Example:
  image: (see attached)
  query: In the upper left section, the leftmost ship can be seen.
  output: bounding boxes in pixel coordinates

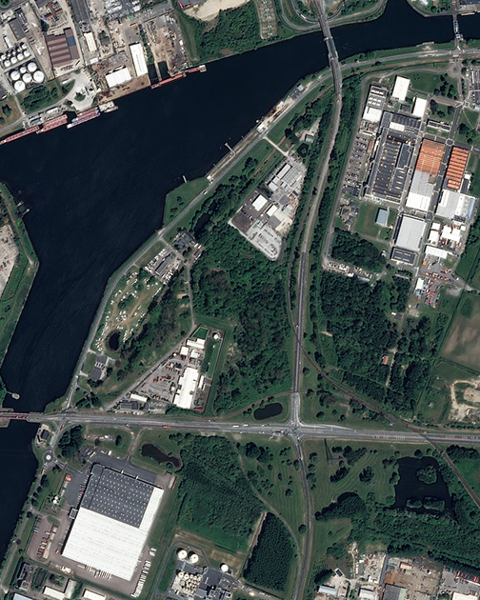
[0,126,40,144]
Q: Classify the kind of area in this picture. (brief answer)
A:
port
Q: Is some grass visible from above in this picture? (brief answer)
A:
Yes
